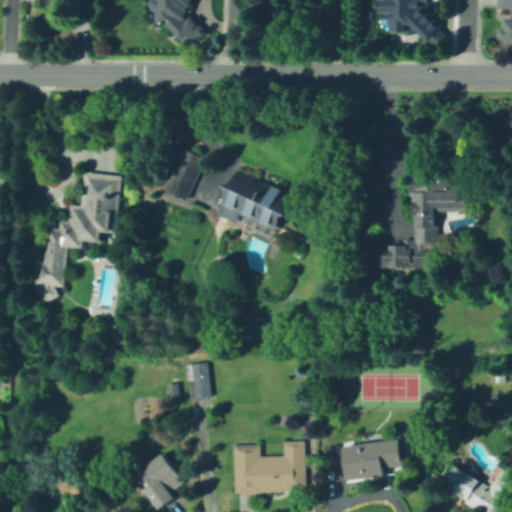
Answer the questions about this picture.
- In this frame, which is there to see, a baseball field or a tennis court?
tennis court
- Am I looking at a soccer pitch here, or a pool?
pool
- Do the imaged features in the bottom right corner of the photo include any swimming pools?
Yes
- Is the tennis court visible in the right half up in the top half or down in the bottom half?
bottom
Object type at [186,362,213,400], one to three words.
shed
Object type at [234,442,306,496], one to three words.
house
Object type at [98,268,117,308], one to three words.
swimming pool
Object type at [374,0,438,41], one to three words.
house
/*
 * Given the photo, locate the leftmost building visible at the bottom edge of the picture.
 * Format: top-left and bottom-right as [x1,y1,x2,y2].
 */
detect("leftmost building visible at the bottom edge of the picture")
[140,454,186,510]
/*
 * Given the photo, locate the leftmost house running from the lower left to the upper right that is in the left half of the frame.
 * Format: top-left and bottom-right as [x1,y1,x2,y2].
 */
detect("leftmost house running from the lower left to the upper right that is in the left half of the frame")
[34,173,120,302]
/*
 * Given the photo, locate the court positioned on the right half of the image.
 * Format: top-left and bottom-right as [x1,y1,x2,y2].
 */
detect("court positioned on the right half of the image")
[354,366,430,410]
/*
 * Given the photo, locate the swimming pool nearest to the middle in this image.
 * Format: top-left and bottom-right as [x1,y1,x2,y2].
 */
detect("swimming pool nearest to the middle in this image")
[246,236,270,274]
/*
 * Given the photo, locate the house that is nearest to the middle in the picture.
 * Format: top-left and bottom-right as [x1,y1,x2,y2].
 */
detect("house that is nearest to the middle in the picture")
[215,172,289,228]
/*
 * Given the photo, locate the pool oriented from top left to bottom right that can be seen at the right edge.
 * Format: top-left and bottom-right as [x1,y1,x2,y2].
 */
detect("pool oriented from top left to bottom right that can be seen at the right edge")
[472,444,499,474]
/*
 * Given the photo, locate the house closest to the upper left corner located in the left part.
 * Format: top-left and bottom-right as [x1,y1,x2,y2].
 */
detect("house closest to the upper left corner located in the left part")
[146,0,200,41]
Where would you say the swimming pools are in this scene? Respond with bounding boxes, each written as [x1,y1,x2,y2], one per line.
[450,218,476,232]
[472,444,499,474]
[98,268,117,308]
[246,236,270,274]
